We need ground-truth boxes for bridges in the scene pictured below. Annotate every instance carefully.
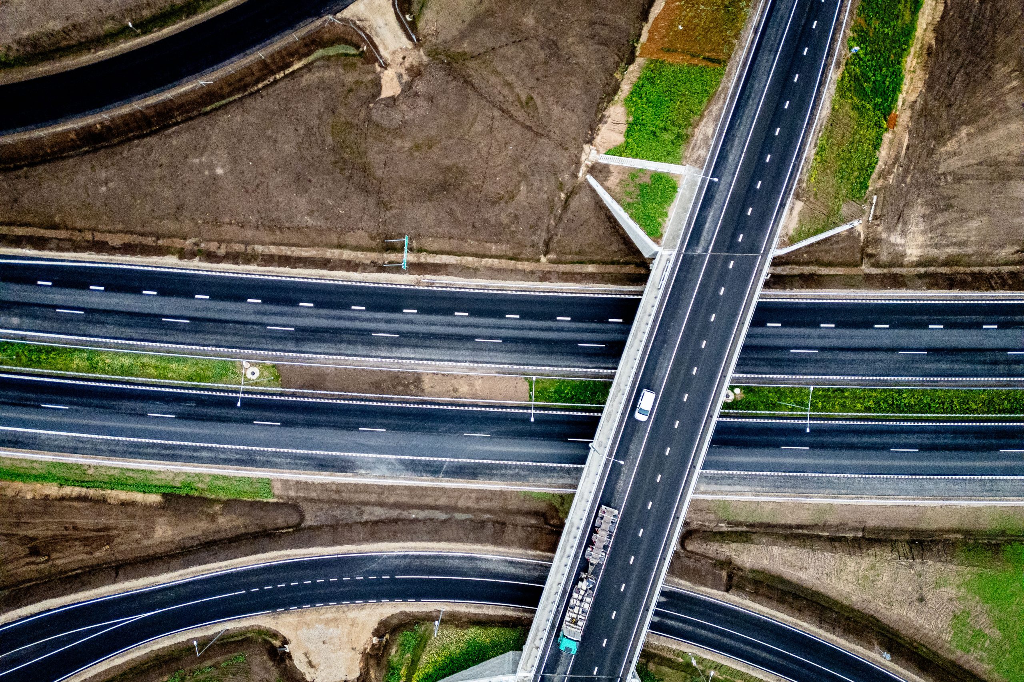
[517,246,777,682]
